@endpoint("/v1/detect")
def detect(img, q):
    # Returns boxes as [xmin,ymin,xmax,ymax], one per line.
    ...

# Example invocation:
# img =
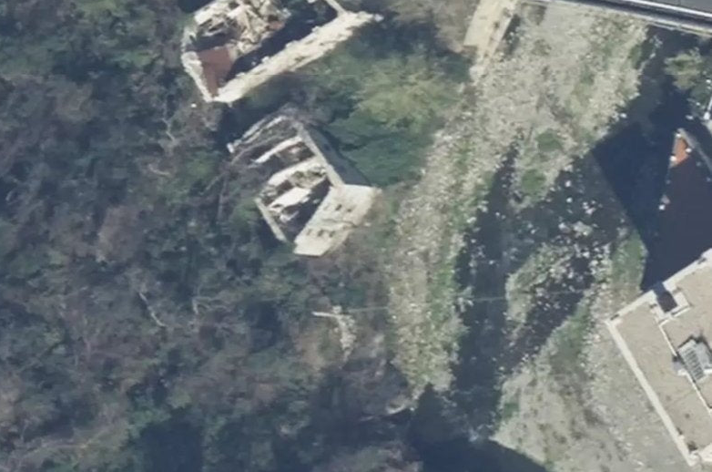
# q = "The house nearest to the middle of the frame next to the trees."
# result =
[233,114,380,255]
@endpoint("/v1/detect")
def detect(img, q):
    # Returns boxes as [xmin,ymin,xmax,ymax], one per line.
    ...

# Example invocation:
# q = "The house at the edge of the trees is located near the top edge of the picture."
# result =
[182,0,383,104]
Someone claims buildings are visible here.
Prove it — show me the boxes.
[233,114,380,255]
[182,0,383,104]
[608,249,712,468]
